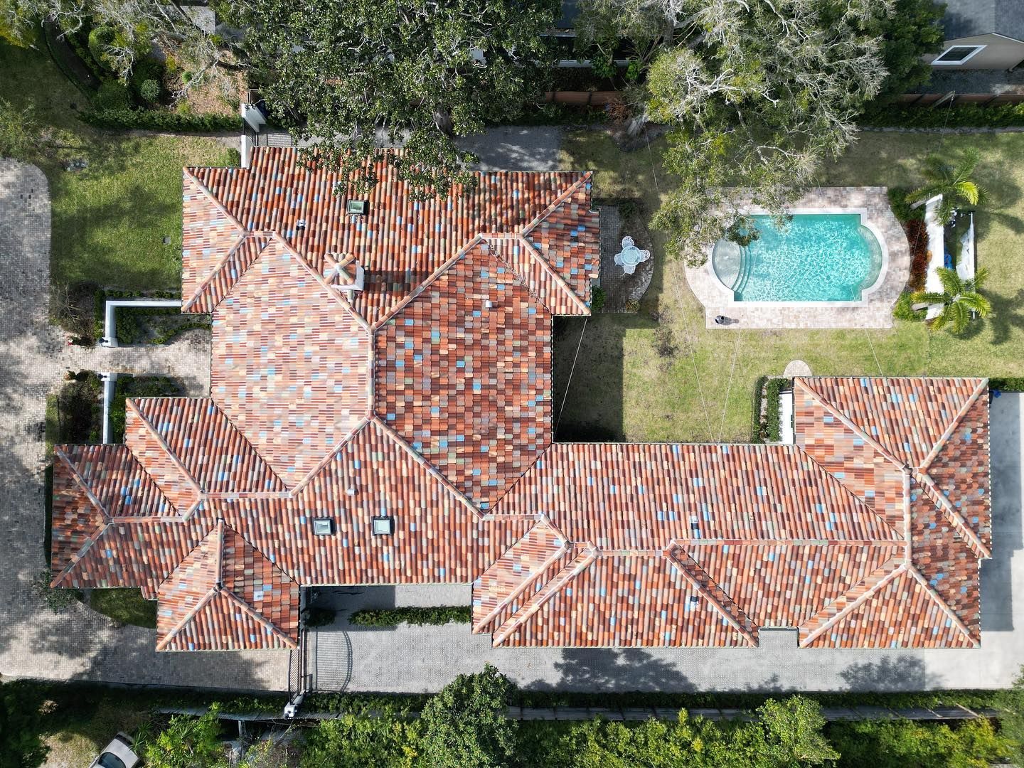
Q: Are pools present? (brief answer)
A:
Yes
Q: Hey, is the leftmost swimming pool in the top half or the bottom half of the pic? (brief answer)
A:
top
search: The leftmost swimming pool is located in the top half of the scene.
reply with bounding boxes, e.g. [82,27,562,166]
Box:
[706,207,889,308]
